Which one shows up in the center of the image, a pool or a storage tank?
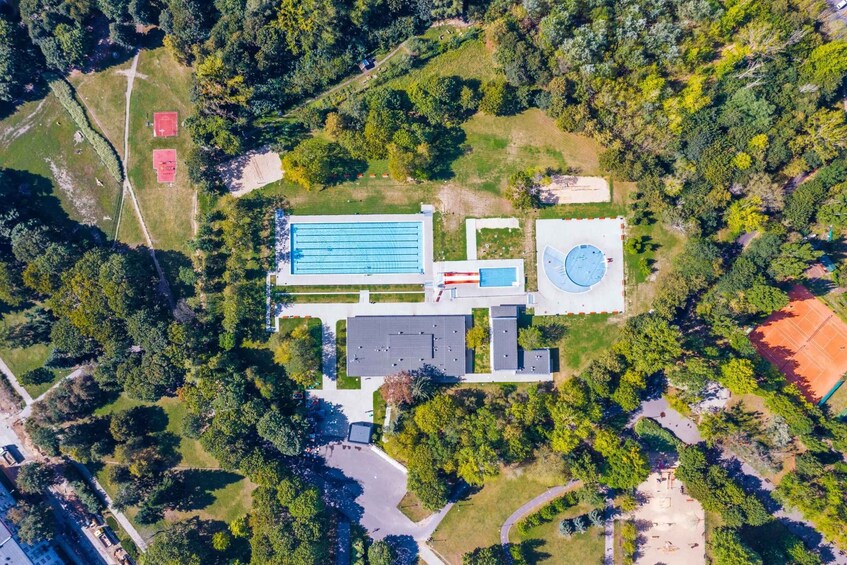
pool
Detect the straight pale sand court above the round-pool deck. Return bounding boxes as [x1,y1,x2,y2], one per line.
[541,176,610,203]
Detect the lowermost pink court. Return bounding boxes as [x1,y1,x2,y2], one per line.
[152,149,176,185]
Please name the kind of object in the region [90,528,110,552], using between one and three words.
vehicle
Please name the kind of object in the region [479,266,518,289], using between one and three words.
swimming pool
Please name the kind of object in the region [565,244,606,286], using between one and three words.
swimming pool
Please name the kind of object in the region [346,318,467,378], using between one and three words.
building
